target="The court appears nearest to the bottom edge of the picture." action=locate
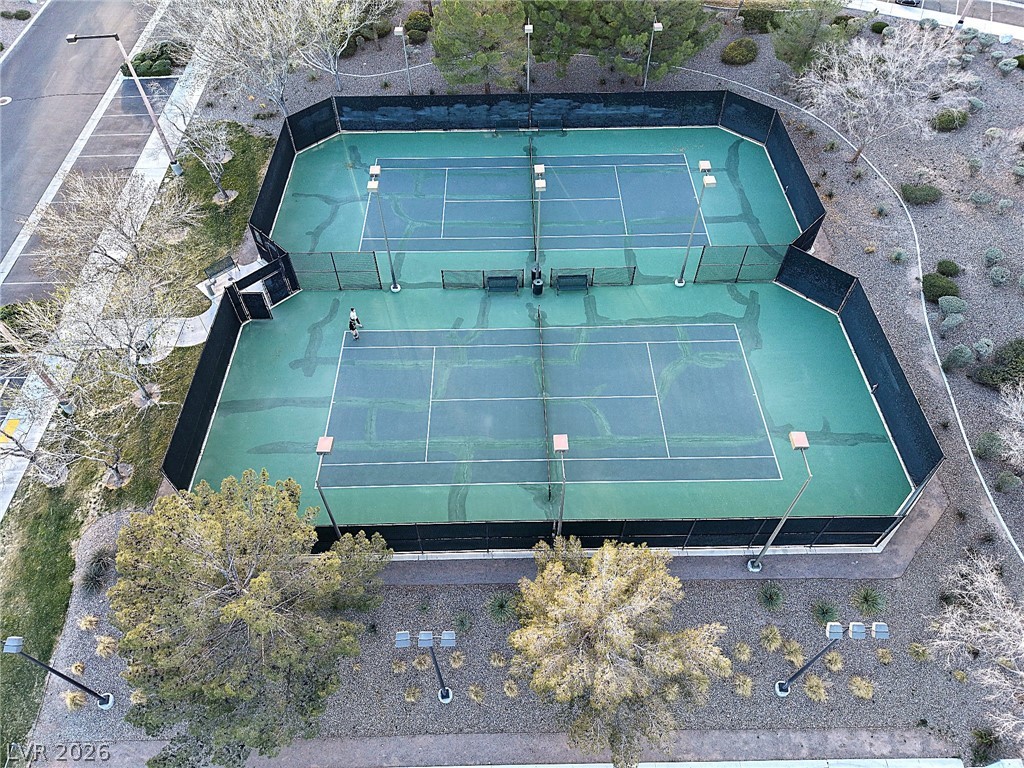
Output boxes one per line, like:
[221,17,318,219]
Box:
[189,281,911,528]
